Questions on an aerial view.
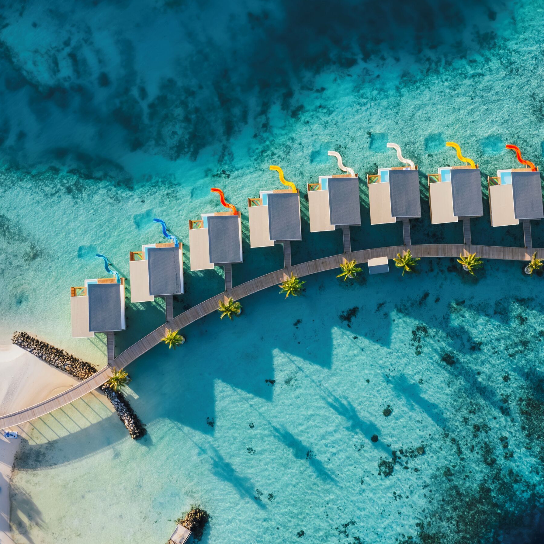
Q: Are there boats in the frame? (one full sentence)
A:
No, I can't see a single boat in this photo.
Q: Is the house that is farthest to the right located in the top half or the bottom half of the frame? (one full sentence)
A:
The house that is farthest to the right is in the top half of the image.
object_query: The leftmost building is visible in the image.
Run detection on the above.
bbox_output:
[70,253,129,339]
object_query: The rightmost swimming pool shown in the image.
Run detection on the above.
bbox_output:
[497,170,512,185]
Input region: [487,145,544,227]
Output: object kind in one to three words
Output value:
house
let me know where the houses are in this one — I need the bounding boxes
[487,145,544,227]
[428,143,484,225]
[246,165,302,247]
[187,187,245,270]
[366,143,422,225]
[128,218,187,302]
[306,151,362,233]
[70,253,129,339]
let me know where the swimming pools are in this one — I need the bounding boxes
[144,244,156,260]
[260,190,274,206]
[318,176,332,190]
[202,213,214,228]
[379,168,392,182]
[438,168,453,182]
[497,170,512,185]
